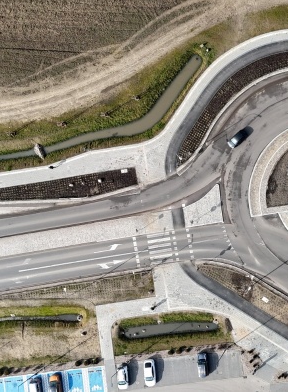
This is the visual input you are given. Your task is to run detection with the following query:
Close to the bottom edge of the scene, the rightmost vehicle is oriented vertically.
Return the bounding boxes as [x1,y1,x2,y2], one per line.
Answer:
[197,351,209,377]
